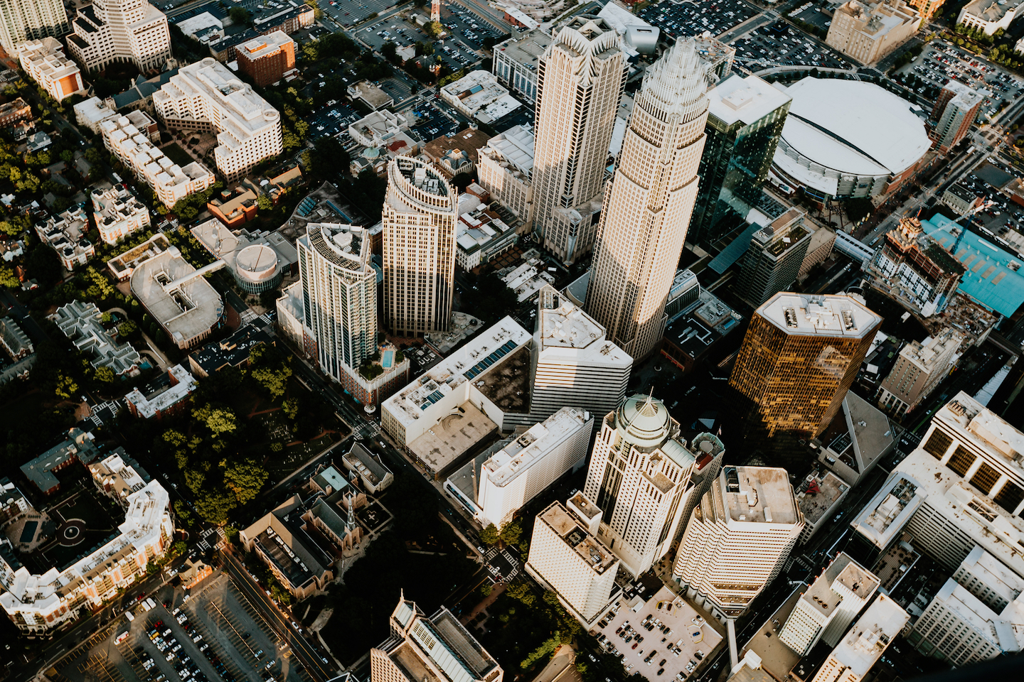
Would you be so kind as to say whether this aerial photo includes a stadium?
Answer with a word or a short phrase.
Yes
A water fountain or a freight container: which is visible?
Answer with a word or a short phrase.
water fountain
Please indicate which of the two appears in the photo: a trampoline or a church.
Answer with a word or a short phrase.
church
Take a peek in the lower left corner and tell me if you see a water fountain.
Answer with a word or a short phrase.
Yes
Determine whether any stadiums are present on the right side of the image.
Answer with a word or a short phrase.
Yes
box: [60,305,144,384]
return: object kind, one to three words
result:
house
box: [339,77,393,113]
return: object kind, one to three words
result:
building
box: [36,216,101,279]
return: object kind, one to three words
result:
building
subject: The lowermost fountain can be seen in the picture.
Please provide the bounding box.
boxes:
[53,518,88,547]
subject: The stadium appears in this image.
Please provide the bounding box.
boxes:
[766,76,932,206]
